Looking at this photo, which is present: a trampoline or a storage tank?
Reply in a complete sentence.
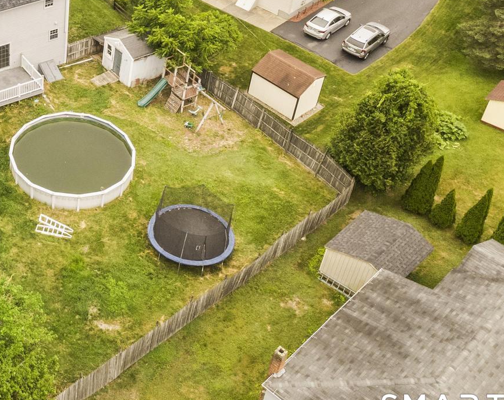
It is a trampoline that can be seen here.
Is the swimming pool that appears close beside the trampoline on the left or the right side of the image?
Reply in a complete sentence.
You can find the swimming pool that appears close beside the trampoline on the left side of the picture.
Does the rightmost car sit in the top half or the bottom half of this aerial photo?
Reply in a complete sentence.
The rightmost car is in the top half of the image.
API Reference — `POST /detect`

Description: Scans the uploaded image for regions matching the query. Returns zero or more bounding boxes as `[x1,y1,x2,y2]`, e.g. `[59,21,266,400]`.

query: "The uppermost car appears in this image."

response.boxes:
[303,6,355,41]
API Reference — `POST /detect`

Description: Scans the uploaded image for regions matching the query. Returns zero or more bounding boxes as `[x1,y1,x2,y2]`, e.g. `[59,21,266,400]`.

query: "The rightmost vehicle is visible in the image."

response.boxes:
[340,22,392,62]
